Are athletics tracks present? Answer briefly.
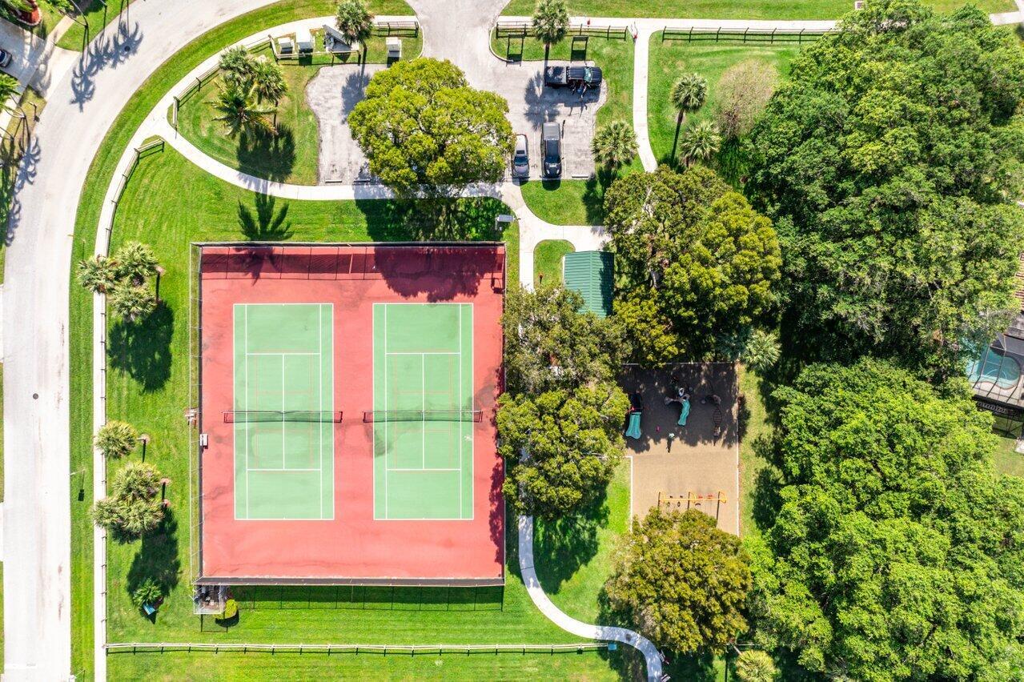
No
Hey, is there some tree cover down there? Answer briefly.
Yes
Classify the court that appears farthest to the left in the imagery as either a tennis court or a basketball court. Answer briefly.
tennis court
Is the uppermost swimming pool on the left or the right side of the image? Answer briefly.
right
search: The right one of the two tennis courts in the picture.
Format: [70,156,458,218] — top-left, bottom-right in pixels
[353,246,505,578]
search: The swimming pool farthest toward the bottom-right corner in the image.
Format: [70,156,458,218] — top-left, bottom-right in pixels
[954,324,1024,407]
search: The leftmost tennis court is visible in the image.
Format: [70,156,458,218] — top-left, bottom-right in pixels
[201,246,353,578]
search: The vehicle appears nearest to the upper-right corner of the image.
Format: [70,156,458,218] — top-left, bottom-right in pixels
[546,62,602,93]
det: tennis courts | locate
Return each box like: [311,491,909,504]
[353,246,505,578]
[201,246,353,578]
